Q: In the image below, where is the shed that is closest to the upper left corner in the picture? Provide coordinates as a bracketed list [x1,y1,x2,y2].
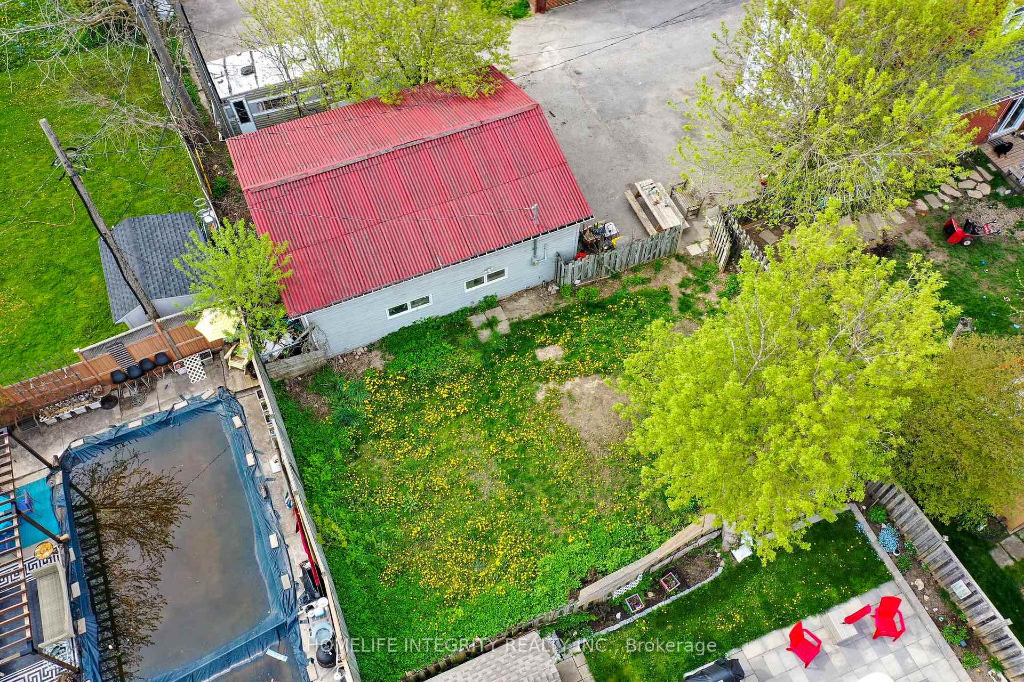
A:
[99,207,219,345]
